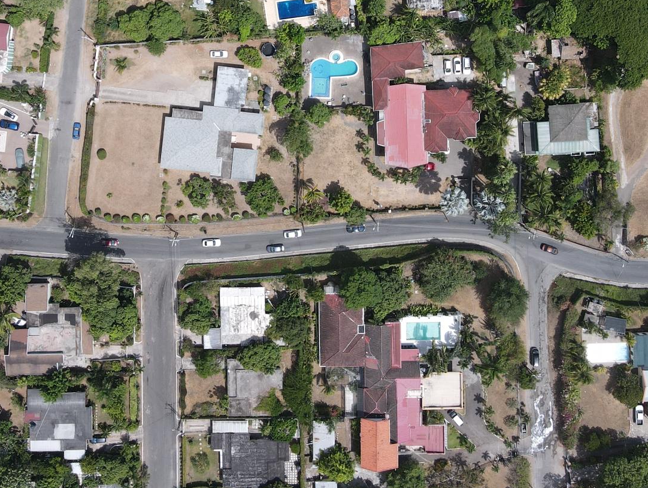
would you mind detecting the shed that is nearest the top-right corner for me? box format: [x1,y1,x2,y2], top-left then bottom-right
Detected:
[551,39,587,60]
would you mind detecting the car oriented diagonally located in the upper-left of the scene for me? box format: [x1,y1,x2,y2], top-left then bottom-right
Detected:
[0,106,18,122]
